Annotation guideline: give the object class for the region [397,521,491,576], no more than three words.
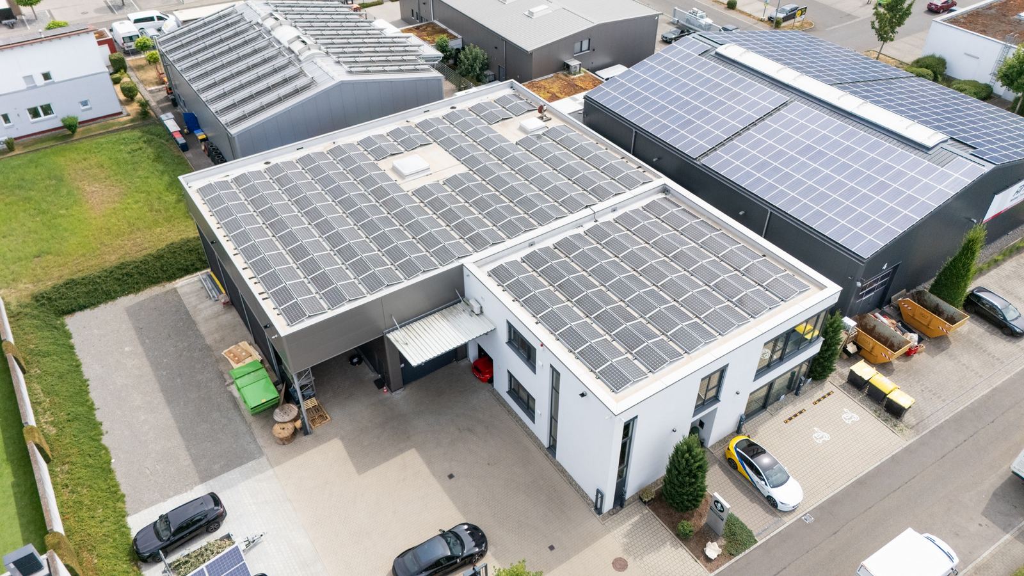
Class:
car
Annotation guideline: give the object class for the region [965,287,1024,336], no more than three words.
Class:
car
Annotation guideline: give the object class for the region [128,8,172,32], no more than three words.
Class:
vehicle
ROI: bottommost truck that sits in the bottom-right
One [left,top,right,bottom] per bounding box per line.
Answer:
[856,526,963,576]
